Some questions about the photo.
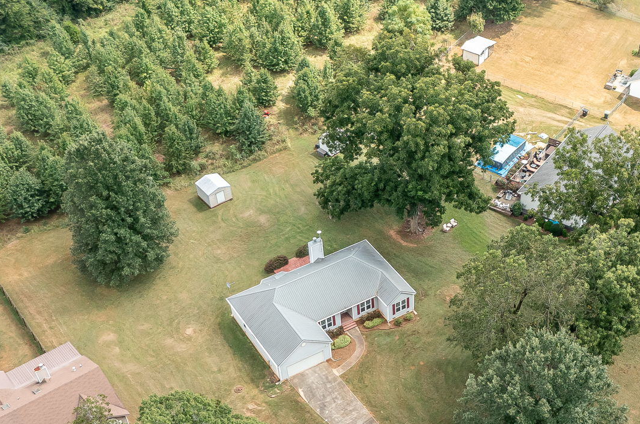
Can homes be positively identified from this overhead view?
Yes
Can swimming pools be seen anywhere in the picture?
Yes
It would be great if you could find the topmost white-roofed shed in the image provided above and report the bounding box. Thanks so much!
[467,36,498,64]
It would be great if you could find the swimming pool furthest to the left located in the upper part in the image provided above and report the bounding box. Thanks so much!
[484,133,530,170]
